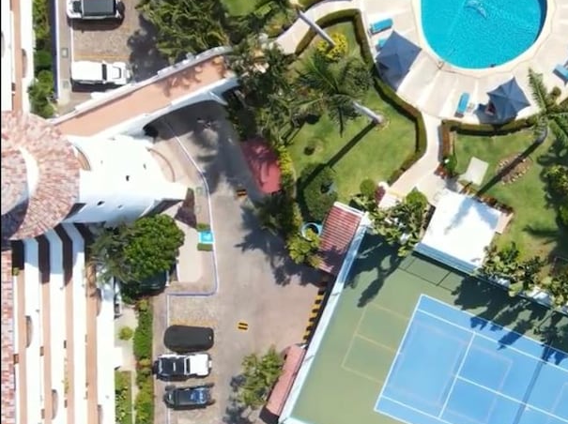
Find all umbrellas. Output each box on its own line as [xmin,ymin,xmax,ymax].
[488,79,526,120]
[376,26,425,74]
